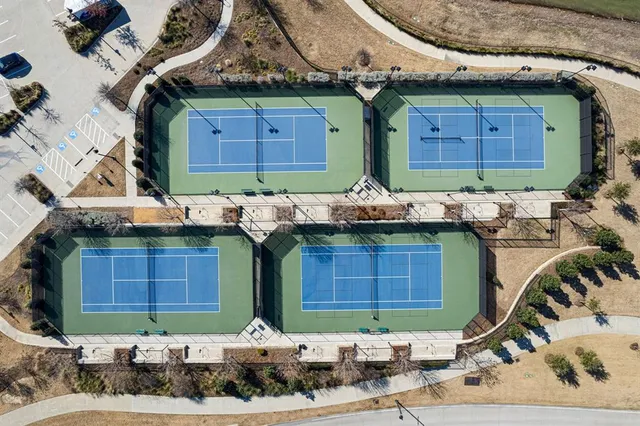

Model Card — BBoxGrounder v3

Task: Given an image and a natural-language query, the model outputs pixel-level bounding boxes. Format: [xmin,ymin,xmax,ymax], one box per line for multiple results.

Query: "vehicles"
[67,0,113,22]
[0,56,28,76]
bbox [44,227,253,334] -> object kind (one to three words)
tennis court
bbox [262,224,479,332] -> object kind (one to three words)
tennis court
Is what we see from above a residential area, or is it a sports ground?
sports ground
